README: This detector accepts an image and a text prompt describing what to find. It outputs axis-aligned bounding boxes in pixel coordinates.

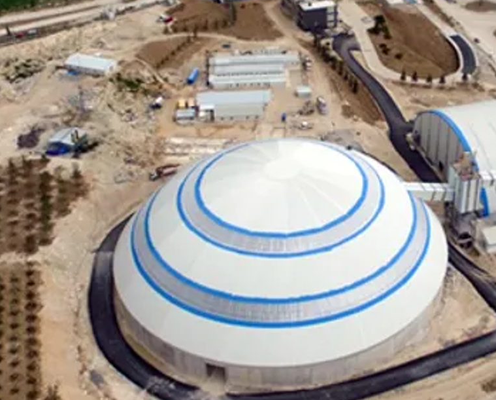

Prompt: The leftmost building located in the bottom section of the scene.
[110,134,448,387]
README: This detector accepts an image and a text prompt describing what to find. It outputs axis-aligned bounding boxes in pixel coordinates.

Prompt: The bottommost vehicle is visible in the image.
[152,164,180,178]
